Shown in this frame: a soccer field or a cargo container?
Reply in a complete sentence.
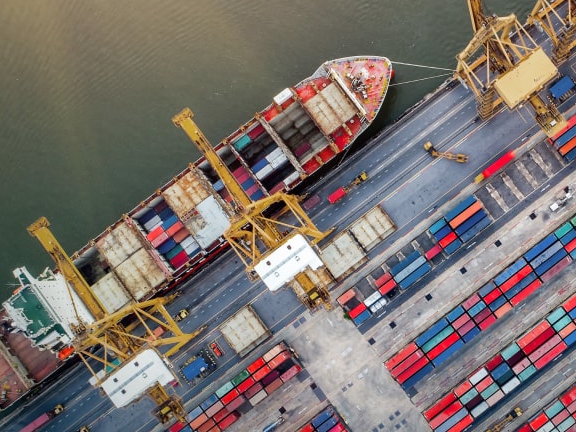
Of the two, only a cargo container appears.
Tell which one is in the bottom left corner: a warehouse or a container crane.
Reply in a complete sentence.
You can see a container crane in the bottom left corner.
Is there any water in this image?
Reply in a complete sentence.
Yes, there is water in the image.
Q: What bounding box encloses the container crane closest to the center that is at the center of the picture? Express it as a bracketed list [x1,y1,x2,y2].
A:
[171,105,338,318]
